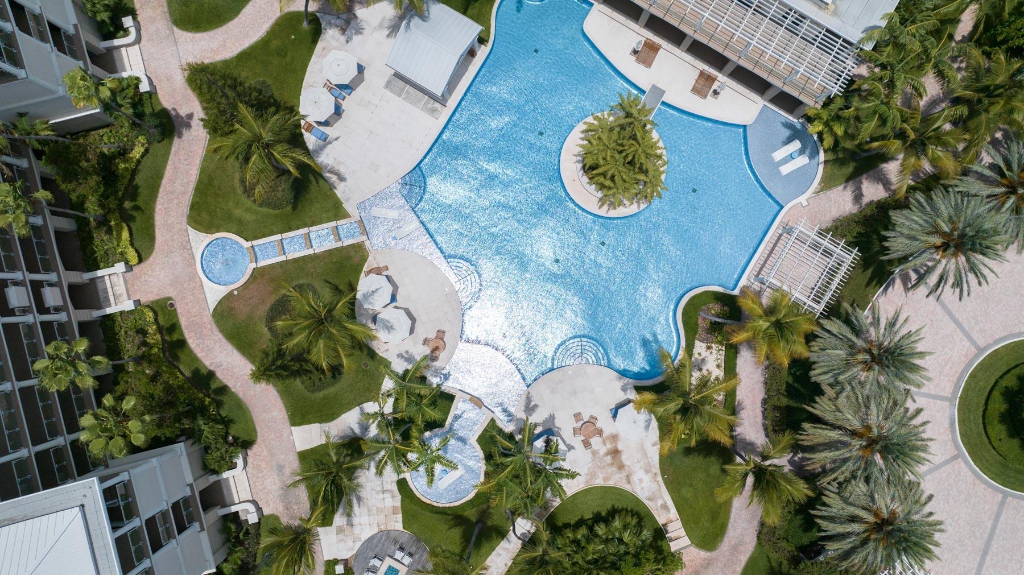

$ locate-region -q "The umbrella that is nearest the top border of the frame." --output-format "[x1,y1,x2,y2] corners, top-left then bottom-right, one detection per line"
[629,36,644,56]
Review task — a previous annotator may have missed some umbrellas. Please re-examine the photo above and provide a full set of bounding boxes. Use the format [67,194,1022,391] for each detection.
[615,402,649,438]
[629,36,644,56]
[378,307,412,341]
[325,53,360,88]
[301,87,337,123]
[710,80,729,98]
[360,274,395,309]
